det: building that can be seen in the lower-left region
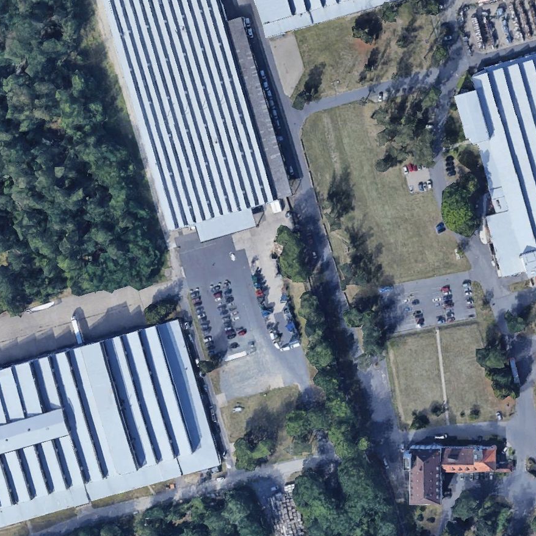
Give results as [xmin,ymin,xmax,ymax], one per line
[0,318,222,527]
